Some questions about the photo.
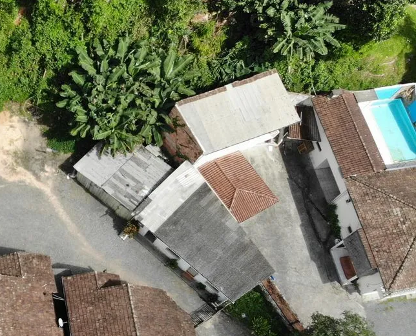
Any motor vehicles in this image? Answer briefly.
No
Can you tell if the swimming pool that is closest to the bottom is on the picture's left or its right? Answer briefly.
right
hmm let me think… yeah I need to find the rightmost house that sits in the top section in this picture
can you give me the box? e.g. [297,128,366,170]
[312,90,386,178]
